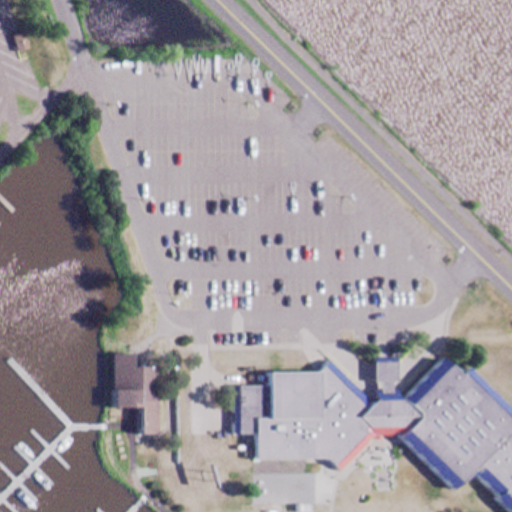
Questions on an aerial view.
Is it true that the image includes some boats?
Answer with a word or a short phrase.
Yes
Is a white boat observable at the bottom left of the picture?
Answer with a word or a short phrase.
Yes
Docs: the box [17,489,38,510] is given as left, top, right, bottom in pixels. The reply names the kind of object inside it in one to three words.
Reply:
boat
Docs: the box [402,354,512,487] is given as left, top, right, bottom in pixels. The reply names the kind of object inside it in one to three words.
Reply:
building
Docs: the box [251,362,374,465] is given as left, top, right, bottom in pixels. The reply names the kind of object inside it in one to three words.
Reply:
building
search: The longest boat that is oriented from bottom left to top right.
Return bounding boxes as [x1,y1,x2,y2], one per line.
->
[56,436,74,454]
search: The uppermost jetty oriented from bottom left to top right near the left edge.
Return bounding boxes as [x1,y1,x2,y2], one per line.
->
[0,426,74,503]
